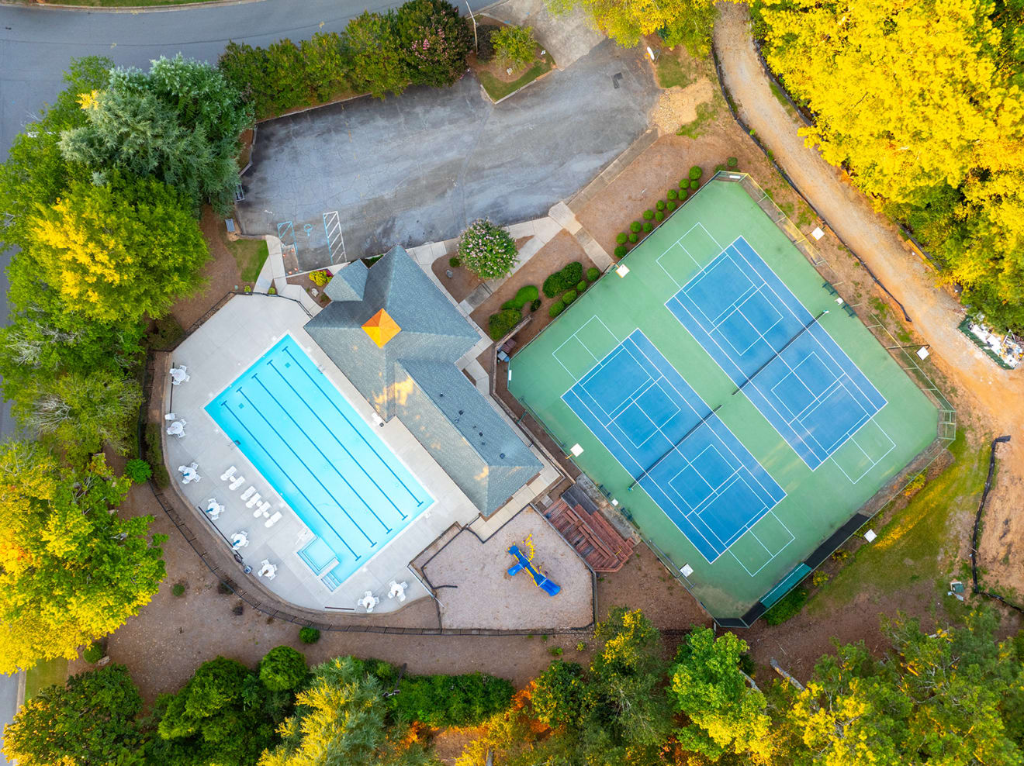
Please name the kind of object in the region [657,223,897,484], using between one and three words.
tennis court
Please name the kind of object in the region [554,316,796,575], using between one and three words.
tennis court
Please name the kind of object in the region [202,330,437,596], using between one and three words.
swimming pool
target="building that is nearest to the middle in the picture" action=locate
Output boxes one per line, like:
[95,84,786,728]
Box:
[305,245,542,518]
